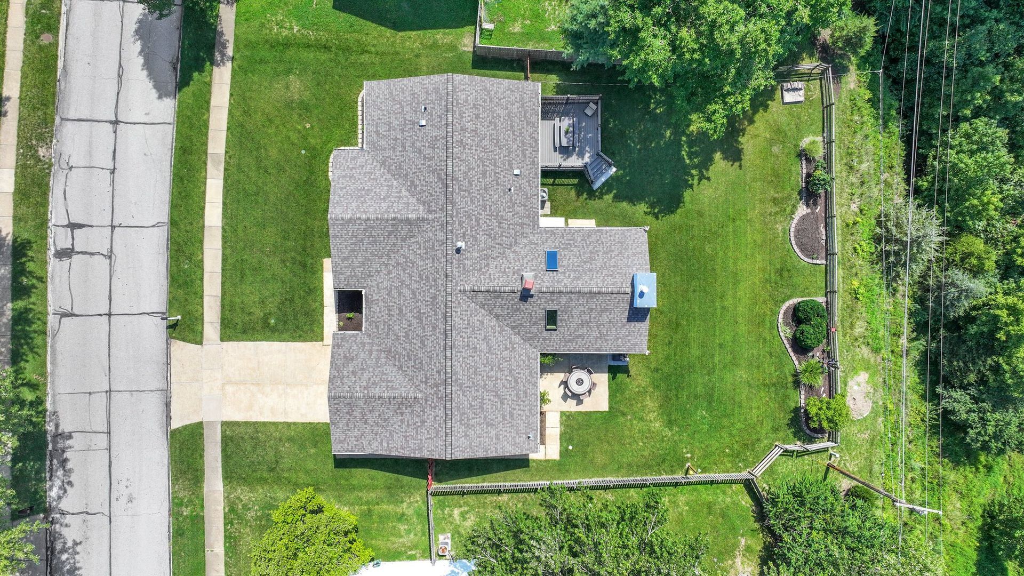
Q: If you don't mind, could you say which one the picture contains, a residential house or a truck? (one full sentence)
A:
Looking from above, you can make out a residential house.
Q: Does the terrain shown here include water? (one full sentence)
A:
No, the scene doesn't show any water.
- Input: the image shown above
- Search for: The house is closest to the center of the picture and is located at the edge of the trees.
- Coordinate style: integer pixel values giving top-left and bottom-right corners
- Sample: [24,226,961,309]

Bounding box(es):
[329,73,657,460]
